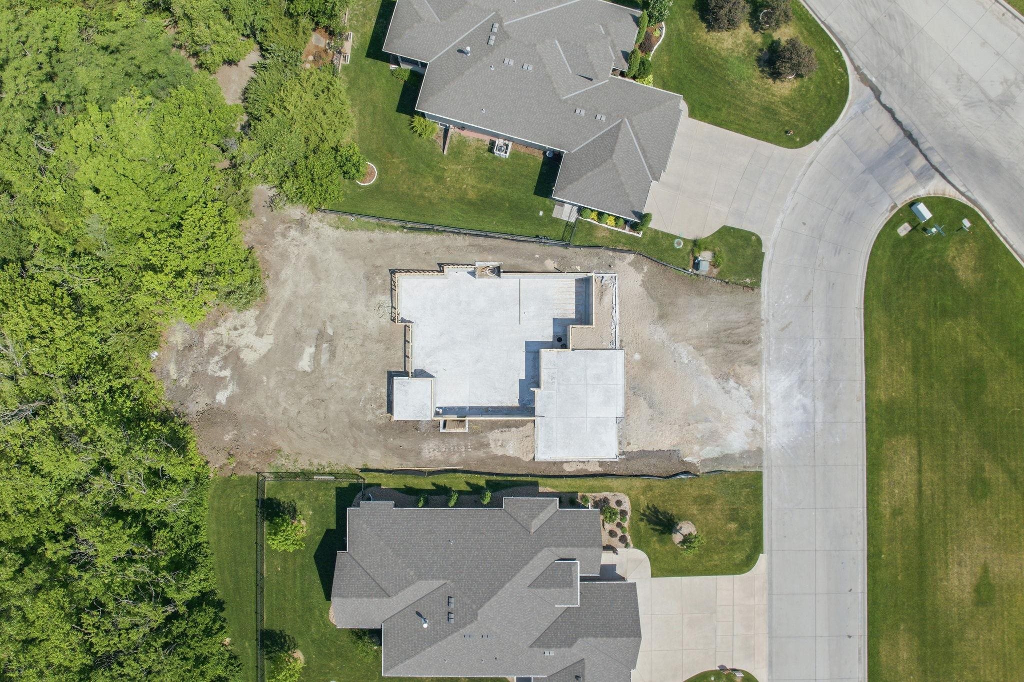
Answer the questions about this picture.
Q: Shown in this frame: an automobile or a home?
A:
home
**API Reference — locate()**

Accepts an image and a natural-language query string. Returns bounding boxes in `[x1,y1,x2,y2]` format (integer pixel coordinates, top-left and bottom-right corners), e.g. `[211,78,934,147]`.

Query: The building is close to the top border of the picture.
[382,0,684,222]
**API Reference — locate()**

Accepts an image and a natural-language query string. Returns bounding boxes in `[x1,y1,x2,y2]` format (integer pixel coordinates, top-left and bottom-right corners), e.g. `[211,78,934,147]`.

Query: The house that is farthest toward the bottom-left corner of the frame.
[332,495,642,682]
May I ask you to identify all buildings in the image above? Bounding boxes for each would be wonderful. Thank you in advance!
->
[382,0,684,222]
[332,495,642,682]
